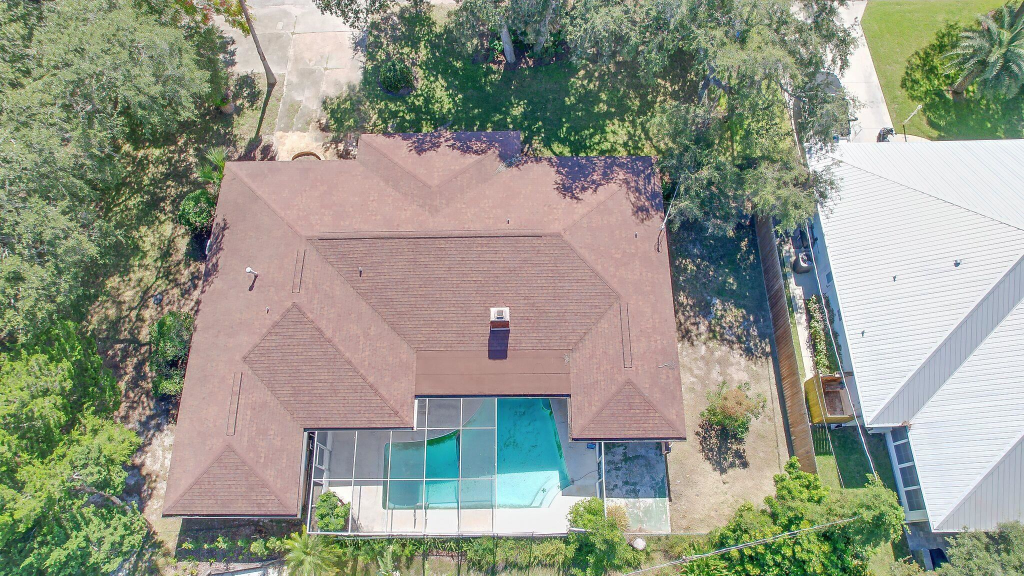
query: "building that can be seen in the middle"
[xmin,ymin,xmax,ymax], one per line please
[162,132,685,522]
